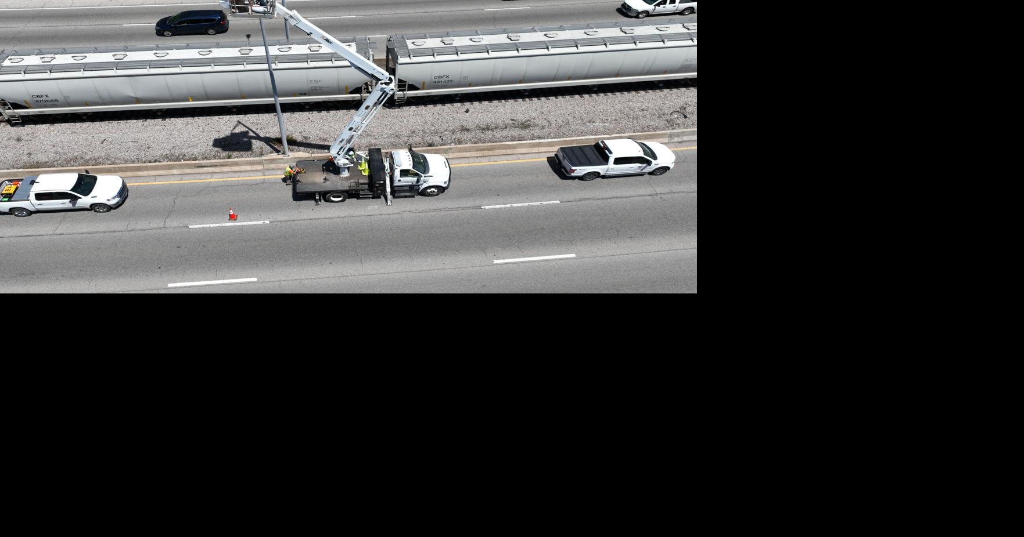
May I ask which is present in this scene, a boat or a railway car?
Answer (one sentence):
Looking from above, you can make out a railway car.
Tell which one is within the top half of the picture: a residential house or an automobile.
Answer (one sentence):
The feature located within the top half of the picture is an automobile.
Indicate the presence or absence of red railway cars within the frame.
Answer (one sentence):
No, no red railway car is visible in the view.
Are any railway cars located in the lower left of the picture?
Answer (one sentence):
No, there is no railway car in the lower left of the picture.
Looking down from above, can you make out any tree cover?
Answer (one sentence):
No, the scene doesn't show any tree cover.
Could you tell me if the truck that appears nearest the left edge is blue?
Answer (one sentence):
No, the color of the truck that appears nearest the left edge is white.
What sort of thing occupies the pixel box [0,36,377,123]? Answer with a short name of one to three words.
rail car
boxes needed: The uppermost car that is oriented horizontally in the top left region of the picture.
[154,7,229,35]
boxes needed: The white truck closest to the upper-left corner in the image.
[0,169,128,215]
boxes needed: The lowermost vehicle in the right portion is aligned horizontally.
[555,136,678,179]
